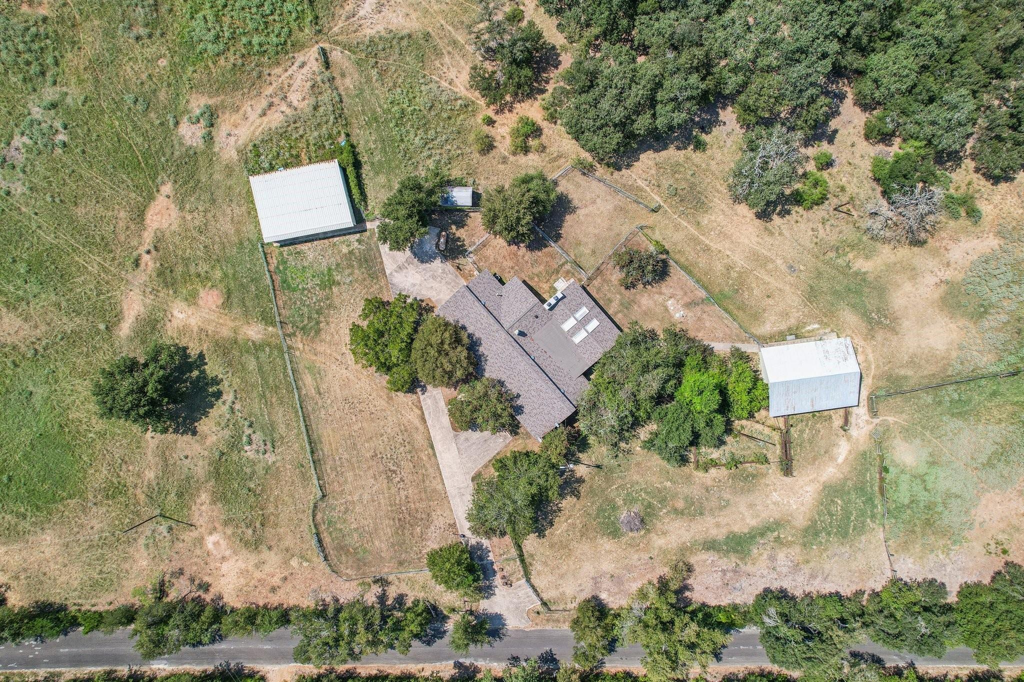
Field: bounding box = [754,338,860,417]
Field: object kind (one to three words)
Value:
barn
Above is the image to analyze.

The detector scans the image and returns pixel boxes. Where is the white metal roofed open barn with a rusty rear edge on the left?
[249,160,360,243]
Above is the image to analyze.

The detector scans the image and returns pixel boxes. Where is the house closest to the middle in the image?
[436,269,617,438]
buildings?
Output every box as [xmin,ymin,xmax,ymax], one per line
[754,338,860,417]
[436,269,617,438]
[249,160,360,243]
[440,187,472,207]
